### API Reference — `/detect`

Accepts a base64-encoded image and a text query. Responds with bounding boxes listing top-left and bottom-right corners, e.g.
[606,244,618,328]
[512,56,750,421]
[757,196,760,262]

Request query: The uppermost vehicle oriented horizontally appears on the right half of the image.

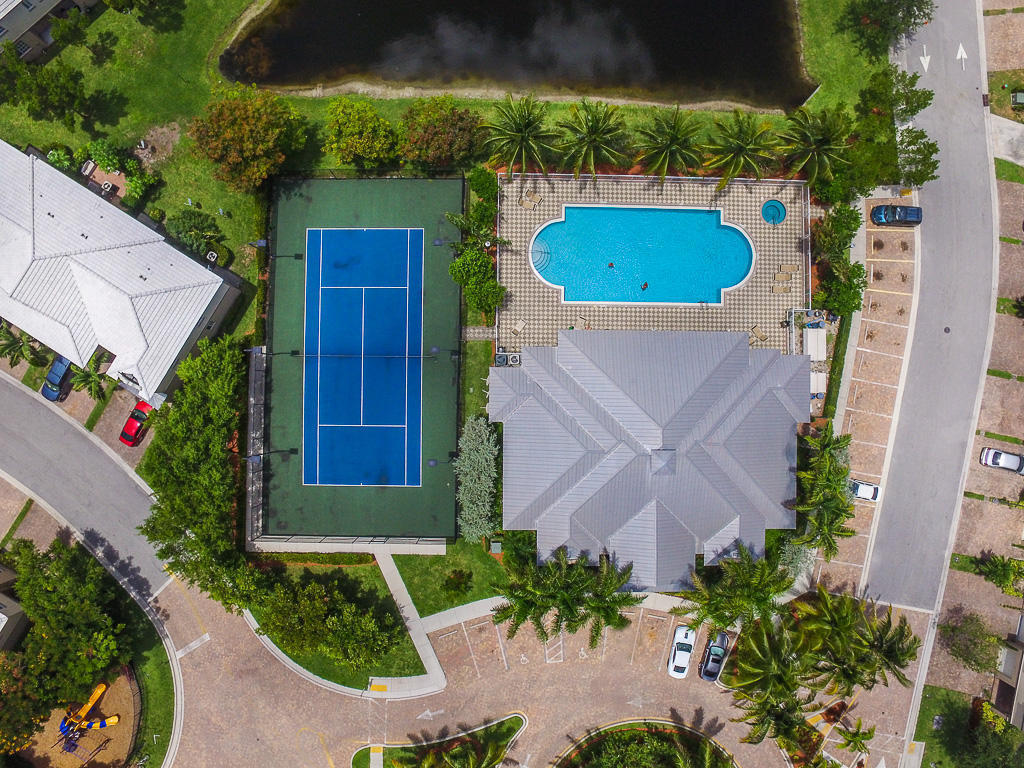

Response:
[868,202,924,228]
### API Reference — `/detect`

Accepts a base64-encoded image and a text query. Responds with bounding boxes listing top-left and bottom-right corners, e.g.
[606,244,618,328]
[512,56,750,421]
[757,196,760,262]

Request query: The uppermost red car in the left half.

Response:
[116,398,158,450]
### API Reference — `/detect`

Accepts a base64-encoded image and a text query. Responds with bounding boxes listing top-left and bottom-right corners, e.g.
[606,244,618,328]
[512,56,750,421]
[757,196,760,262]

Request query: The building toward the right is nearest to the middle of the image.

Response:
[480,329,811,595]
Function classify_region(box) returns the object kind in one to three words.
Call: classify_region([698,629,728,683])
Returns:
car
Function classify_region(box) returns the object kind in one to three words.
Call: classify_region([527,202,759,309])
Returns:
swimming pool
